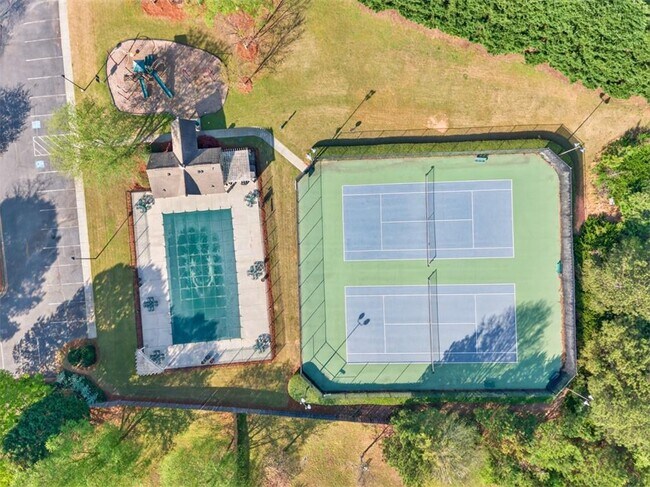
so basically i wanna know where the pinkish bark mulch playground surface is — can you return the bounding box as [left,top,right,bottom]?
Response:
[108,39,227,116]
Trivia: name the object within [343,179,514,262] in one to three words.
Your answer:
tennis court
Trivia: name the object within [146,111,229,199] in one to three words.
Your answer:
building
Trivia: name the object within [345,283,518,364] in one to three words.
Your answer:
tennis court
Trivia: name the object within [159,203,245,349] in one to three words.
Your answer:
swimming pool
